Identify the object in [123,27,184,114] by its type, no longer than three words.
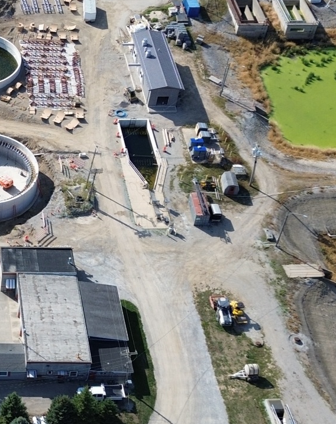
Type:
building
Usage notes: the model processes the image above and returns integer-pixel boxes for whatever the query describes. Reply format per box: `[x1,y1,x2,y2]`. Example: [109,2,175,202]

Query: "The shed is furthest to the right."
[215,169,241,201]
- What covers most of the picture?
paved ground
